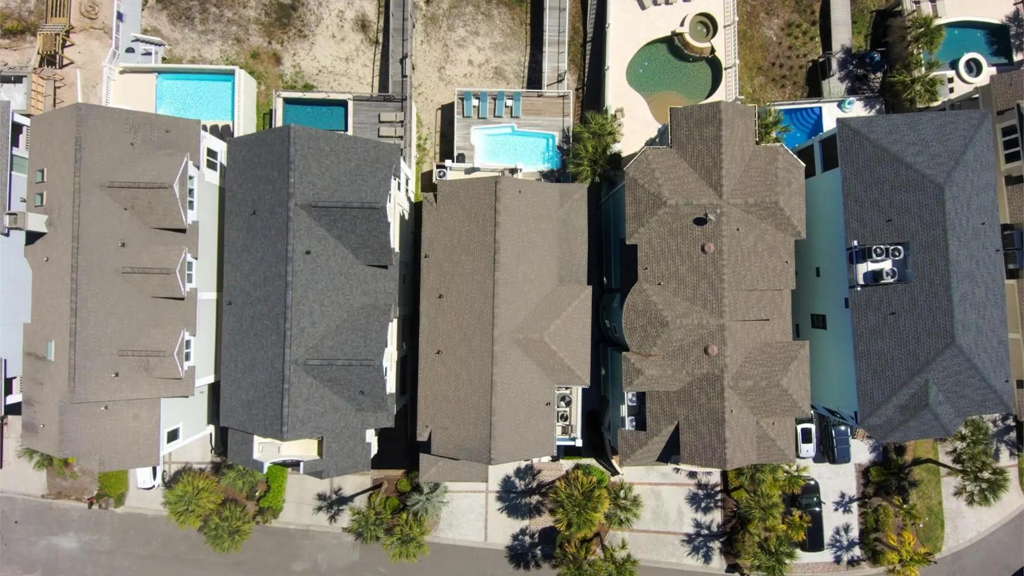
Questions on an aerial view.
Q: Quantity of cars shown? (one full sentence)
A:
The count of cars comes to 4.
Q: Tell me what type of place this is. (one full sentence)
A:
What you see here is a residential area.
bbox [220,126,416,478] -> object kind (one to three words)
house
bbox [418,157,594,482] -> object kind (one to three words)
house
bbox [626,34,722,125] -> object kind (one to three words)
swimming pool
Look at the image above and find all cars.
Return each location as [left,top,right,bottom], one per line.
[143,455,176,487]
[788,474,824,552]
[795,398,818,458]
[820,409,854,463]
